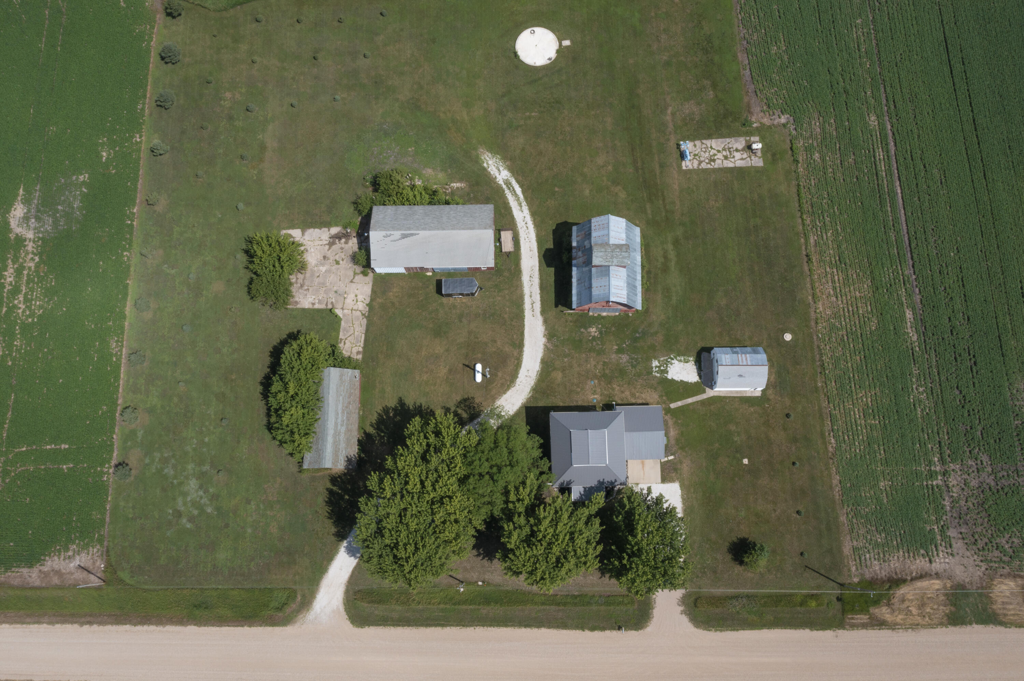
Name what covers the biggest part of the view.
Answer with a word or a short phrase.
grass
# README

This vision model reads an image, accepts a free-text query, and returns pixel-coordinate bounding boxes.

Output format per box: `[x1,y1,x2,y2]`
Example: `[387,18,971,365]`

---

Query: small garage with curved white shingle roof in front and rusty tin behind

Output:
[711,347,768,390]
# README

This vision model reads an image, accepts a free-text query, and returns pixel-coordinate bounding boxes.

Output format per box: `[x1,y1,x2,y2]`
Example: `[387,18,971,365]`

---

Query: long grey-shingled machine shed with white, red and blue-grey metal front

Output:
[369,204,494,273]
